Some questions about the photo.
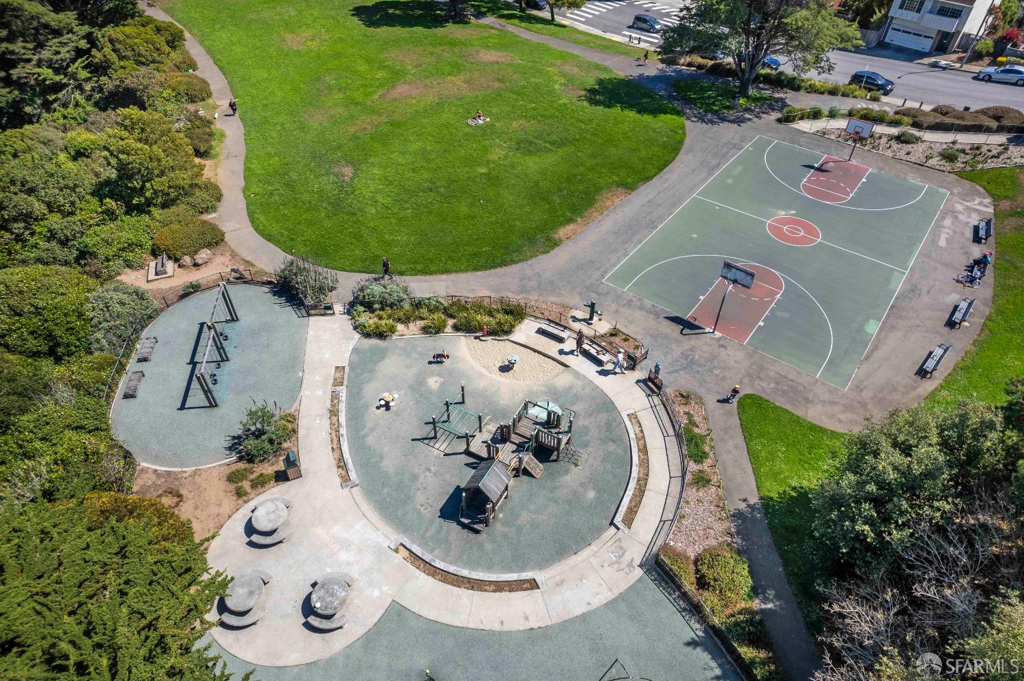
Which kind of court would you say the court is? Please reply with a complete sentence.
The court appears to be a basketball court.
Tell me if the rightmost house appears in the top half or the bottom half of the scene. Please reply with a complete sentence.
You can find the rightmost house in the top half.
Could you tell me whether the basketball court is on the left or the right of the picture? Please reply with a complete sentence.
It is on the right.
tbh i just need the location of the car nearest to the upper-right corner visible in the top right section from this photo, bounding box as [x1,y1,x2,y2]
[978,60,1024,82]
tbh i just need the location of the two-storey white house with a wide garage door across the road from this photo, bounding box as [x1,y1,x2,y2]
[884,0,985,57]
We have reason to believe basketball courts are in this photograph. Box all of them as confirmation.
[603,135,948,390]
